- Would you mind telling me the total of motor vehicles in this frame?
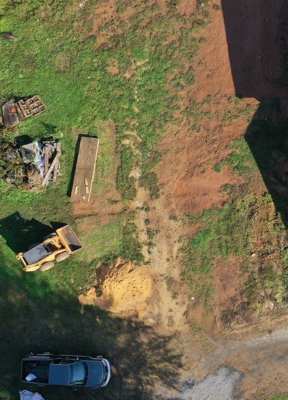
2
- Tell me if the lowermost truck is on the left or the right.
left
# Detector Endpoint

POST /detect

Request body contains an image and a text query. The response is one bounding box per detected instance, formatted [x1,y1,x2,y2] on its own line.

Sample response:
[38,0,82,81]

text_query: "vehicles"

[24,355,115,395]
[8,224,80,273]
